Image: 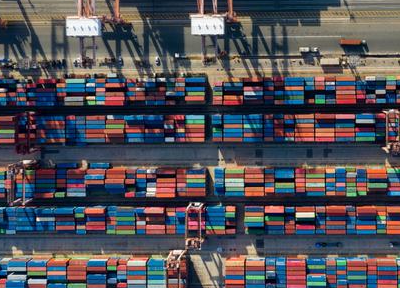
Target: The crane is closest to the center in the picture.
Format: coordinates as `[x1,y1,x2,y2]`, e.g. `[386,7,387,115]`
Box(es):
[185,194,211,251]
